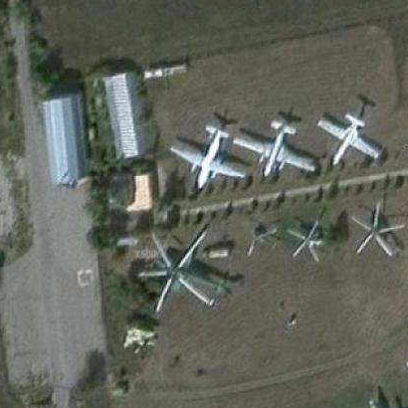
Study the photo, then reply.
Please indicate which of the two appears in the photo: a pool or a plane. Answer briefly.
plane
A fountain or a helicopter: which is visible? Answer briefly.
helicopter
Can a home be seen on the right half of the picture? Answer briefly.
No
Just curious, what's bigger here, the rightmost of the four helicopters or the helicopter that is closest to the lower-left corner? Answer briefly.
the helicopter that is closest to the lower-left corner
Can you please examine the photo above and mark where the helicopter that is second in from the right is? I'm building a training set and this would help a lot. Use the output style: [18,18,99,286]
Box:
[290,220,334,263]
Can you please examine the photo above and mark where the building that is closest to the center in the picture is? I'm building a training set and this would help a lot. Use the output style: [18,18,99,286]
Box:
[127,174,158,216]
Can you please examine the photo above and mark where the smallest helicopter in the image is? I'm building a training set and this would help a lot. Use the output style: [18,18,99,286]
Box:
[245,222,278,255]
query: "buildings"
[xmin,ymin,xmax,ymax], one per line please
[42,93,93,186]
[127,174,158,216]
[102,71,154,161]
